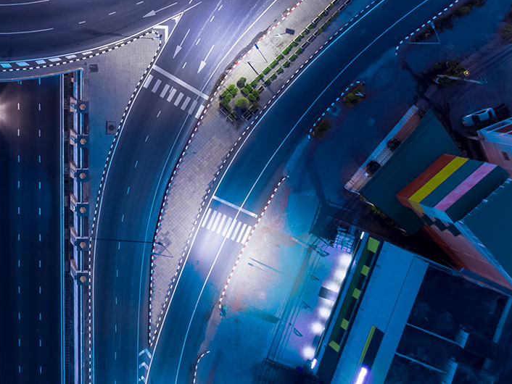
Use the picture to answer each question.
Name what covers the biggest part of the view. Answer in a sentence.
The bulk of the photo consists of paved ground.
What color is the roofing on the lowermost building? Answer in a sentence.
From above, the roof of the lowermost building looks blue.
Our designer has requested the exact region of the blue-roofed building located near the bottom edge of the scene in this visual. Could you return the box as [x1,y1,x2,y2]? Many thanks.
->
[301,232,429,384]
